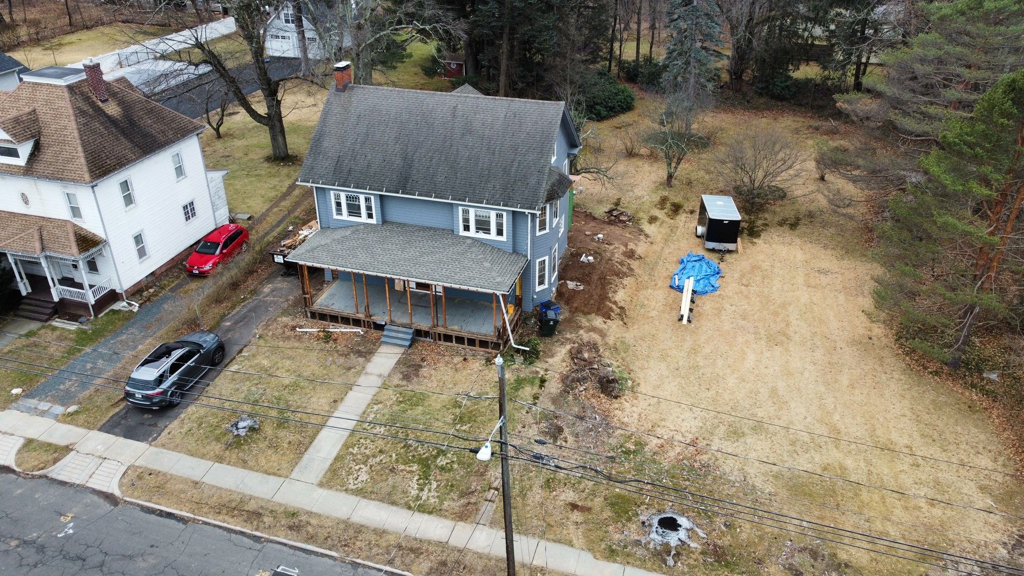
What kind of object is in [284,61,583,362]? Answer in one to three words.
house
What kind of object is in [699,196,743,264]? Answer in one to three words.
trailer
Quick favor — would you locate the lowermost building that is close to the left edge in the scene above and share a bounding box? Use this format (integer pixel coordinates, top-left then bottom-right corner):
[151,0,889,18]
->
[0,55,237,321]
